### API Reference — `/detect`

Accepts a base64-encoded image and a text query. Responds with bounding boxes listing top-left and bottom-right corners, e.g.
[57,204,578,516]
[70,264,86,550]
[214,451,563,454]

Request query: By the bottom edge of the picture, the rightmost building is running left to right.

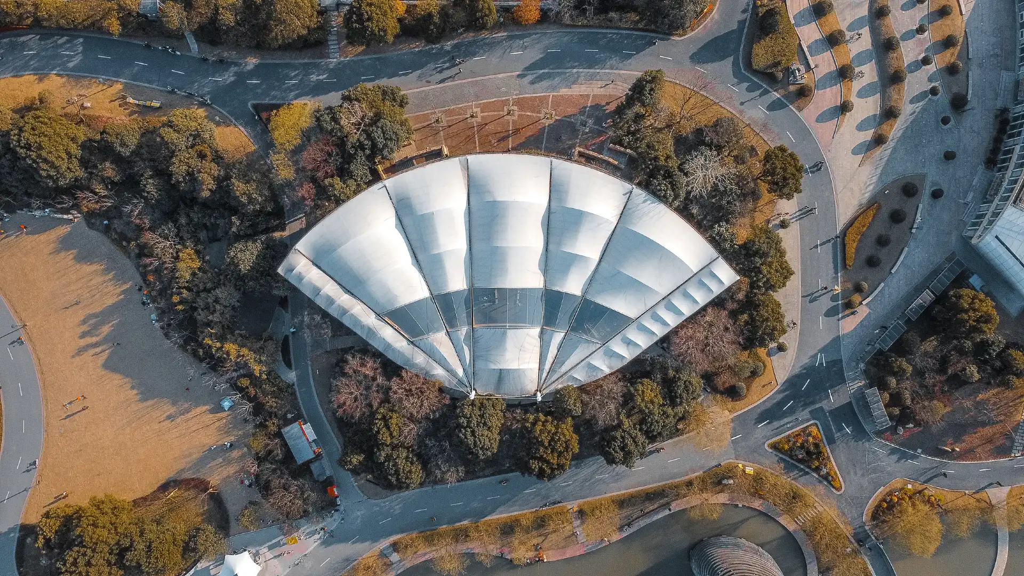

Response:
[693,534,786,576]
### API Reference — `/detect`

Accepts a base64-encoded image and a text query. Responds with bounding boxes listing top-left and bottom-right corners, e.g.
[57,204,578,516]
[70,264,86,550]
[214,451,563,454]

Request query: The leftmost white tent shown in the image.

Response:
[213,547,266,576]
